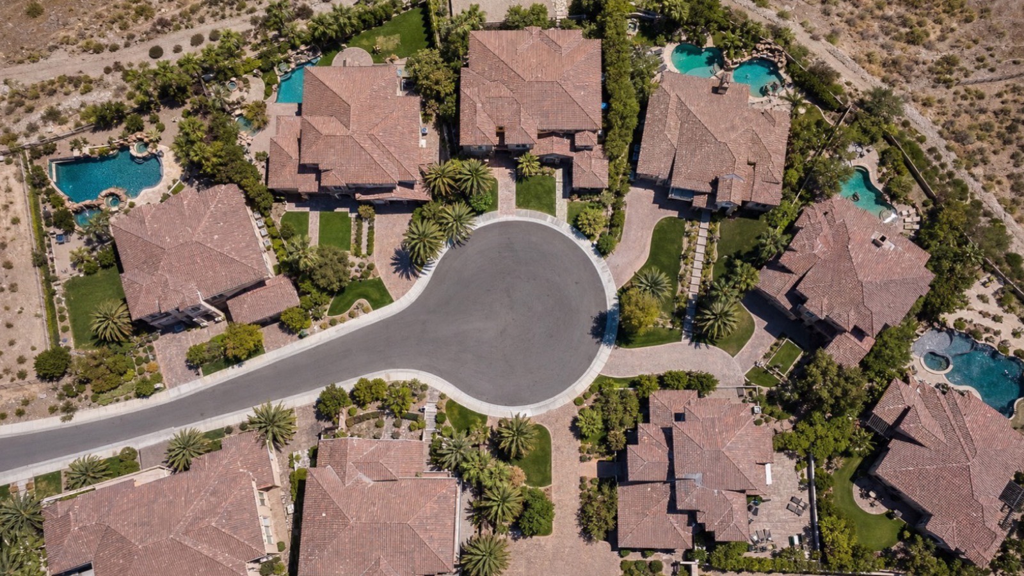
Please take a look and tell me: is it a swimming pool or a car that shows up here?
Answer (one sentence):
Visible in the photo is a swimming pool.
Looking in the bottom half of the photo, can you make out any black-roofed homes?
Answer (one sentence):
No, the scene shows no black-roofed home in the bottom half of the photo.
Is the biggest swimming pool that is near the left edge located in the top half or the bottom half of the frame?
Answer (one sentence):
The top half of the photo is where the biggest swimming pool that is near the left edge is.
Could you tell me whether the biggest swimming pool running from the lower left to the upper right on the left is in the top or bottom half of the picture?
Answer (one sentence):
The biggest swimming pool running from the lower left to the upper right on the left is in the top half of the image.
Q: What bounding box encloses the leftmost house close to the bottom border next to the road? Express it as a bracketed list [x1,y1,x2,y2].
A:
[40,429,283,576]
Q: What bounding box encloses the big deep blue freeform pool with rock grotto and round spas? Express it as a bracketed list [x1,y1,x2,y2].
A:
[46,144,165,205]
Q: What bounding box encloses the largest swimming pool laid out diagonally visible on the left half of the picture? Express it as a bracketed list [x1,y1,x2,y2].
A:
[271,55,323,107]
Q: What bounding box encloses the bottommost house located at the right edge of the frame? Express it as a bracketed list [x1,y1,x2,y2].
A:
[864,374,1024,569]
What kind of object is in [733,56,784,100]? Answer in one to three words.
swimming pool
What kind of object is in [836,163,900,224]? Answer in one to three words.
swimming pool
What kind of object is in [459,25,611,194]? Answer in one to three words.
house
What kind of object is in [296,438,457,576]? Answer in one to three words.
house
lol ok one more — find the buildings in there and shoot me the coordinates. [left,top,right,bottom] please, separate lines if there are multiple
[267,65,434,206]
[109,183,301,327]
[864,374,1024,569]
[459,25,611,194]
[40,429,283,576]
[618,390,775,550]
[636,66,791,216]
[296,438,457,576]
[754,196,935,367]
